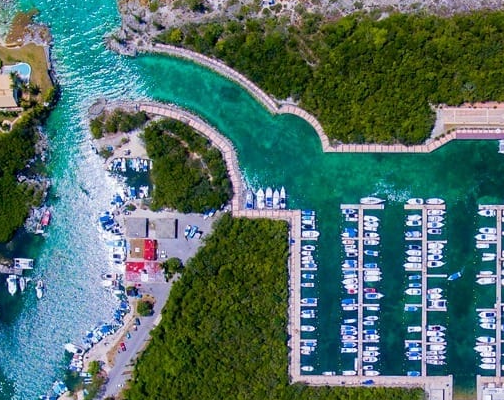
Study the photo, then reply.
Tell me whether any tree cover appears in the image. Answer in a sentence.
Yes, tree cover can be seen from above here.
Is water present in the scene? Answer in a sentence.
Yes, there is water in the image.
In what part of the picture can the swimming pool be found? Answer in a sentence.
The swimming pool is located in the top left region of the scene.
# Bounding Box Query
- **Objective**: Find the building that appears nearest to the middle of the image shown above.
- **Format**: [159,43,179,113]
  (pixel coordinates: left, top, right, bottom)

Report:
[155,218,177,238]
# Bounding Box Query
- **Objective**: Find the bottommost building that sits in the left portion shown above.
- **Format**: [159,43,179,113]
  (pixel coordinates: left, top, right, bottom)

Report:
[126,262,163,282]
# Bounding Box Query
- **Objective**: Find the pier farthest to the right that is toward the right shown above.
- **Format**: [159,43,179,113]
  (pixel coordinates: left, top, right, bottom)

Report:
[476,204,504,377]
